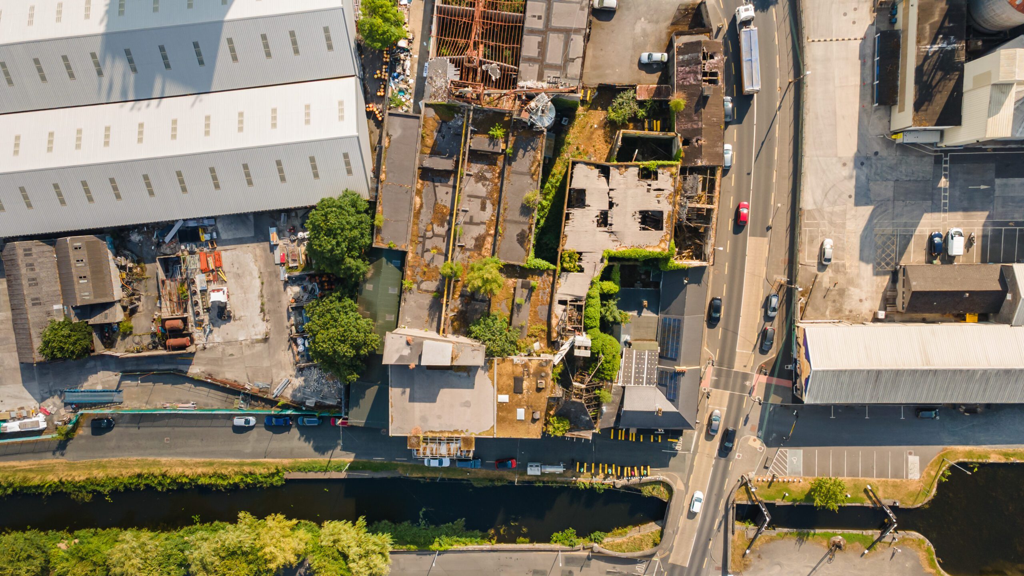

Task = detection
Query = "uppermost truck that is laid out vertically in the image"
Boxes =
[734,0,761,95]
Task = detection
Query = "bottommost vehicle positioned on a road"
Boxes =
[689,490,704,515]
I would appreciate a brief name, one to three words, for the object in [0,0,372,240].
warehouse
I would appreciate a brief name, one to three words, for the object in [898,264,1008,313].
shed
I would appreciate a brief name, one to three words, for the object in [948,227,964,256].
vehicle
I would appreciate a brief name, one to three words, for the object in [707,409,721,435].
car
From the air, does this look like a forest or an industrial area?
industrial area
